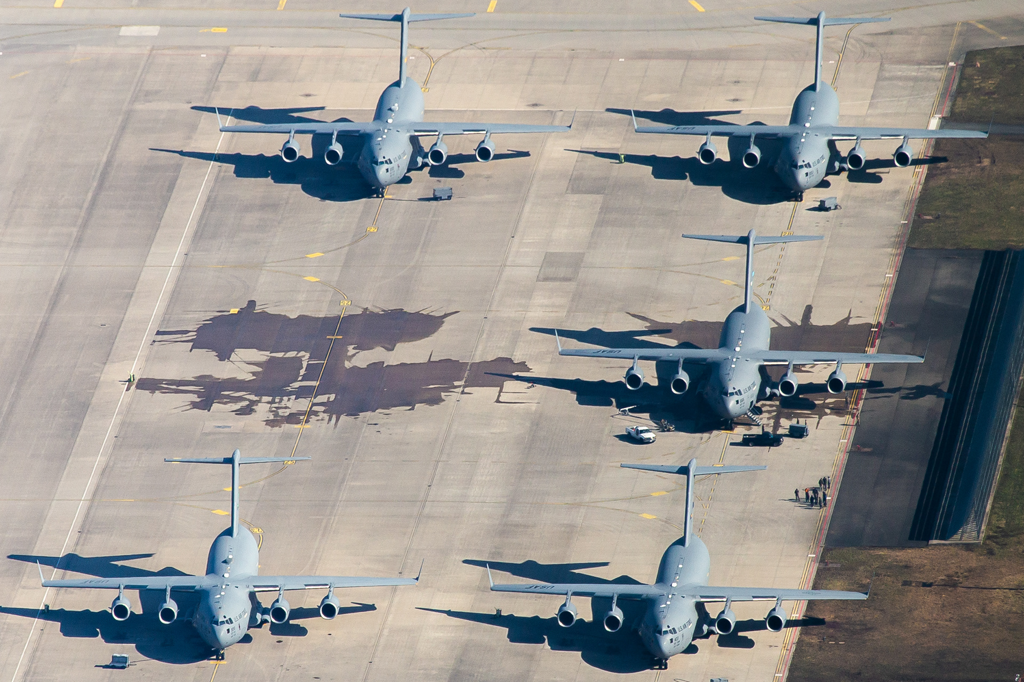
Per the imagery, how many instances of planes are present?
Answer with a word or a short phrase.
five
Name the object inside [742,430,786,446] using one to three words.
vehicle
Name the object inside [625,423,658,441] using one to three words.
vehicle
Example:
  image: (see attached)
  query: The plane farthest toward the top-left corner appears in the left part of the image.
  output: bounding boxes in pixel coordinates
[215,5,576,199]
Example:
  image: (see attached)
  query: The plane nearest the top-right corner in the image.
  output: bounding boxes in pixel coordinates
[631,9,994,203]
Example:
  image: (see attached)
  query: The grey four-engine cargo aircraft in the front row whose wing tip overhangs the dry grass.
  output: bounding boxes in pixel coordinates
[487,456,875,671]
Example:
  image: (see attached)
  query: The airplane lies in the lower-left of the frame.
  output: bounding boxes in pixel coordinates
[36,448,424,662]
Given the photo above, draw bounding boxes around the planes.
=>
[36,448,424,662]
[631,9,994,203]
[215,5,576,199]
[555,226,930,430]
[487,456,875,671]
